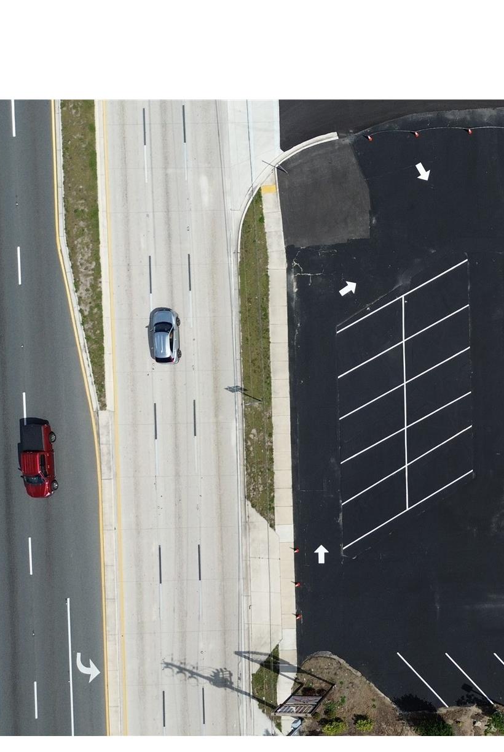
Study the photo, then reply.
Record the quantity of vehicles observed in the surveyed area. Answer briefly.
two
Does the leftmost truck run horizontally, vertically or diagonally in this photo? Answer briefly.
vertically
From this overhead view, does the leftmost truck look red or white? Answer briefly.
red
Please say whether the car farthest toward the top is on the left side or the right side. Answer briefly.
left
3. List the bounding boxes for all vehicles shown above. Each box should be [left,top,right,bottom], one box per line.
[21,424,60,498]
[147,308,182,365]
